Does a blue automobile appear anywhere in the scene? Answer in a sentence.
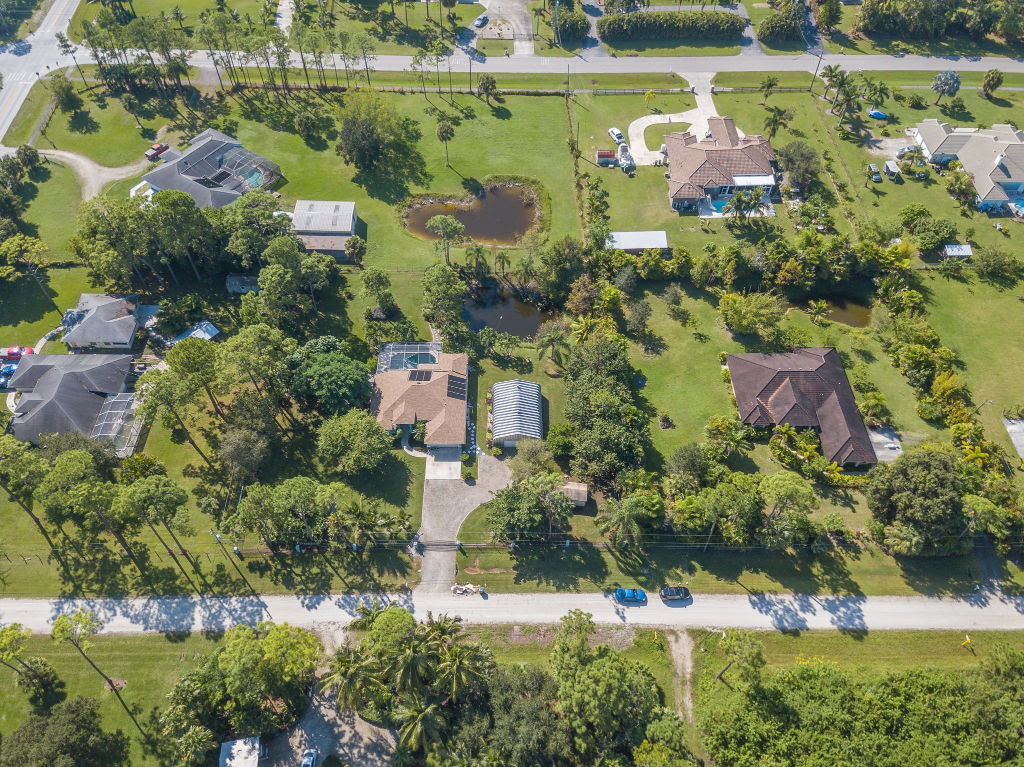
Yes, the frame does contain a blue automobile.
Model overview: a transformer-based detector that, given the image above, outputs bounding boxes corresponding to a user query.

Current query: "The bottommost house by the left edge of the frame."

[6,355,145,448]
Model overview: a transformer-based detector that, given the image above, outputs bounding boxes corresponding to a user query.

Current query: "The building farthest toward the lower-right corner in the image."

[726,348,877,469]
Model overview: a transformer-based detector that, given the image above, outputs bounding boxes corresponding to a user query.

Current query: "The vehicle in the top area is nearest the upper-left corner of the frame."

[142,144,170,159]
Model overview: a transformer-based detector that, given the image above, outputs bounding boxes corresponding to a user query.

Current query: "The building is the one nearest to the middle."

[491,380,544,448]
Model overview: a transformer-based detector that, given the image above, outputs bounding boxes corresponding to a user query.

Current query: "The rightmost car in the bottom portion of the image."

[659,586,694,603]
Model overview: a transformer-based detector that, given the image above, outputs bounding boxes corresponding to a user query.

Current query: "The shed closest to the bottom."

[560,483,587,508]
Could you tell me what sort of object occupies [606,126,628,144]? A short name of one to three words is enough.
vehicle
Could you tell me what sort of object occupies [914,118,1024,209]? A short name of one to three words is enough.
house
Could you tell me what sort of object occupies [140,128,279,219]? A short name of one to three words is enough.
house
